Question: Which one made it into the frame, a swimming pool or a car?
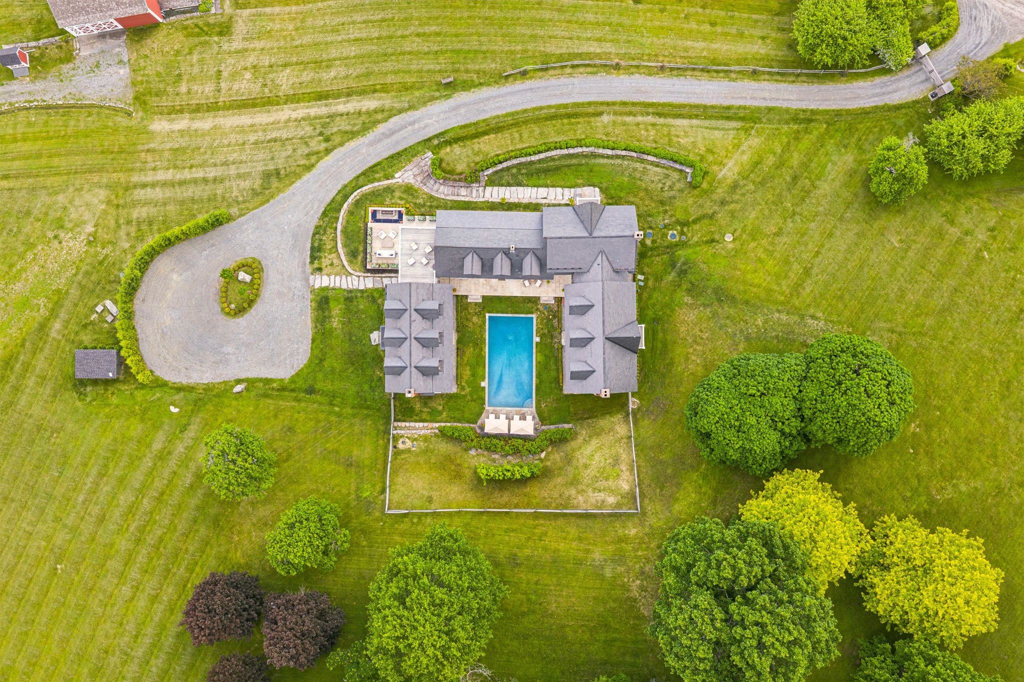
swimming pool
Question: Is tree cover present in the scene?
Yes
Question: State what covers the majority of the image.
grass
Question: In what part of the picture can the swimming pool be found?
center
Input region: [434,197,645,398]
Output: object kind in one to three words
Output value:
house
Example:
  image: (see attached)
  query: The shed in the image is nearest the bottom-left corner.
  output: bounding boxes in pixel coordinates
[74,350,128,378]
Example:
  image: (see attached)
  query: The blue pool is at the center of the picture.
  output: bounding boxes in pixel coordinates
[481,314,540,409]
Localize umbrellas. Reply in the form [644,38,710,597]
[510,421,534,435]
[485,419,508,433]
